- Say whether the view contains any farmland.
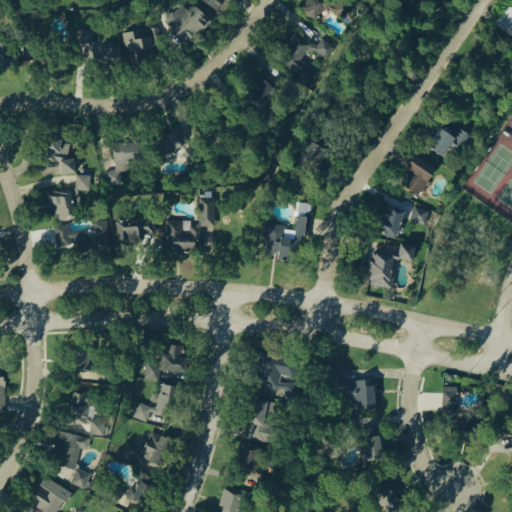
No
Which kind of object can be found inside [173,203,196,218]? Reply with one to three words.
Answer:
swimming pool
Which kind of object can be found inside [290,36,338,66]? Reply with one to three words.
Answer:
house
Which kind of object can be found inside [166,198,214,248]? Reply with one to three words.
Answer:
house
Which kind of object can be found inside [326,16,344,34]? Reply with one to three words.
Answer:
swimming pool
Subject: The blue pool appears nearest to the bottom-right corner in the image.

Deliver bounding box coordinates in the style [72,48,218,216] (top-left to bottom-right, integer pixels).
[460,394,478,408]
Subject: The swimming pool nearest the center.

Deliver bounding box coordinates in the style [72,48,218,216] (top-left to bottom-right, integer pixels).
[273,206,294,222]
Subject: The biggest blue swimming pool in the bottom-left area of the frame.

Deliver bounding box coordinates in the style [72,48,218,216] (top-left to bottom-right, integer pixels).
[108,460,132,478]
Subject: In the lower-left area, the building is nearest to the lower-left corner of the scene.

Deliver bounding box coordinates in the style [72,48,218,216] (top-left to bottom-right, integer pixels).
[32,474,73,512]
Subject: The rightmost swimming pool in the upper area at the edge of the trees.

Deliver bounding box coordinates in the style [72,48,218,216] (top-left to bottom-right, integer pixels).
[433,179,446,197]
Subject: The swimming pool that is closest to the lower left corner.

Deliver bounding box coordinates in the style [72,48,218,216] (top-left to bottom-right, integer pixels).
[82,450,98,465]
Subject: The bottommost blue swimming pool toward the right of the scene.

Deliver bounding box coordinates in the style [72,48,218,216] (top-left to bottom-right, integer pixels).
[342,449,358,467]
